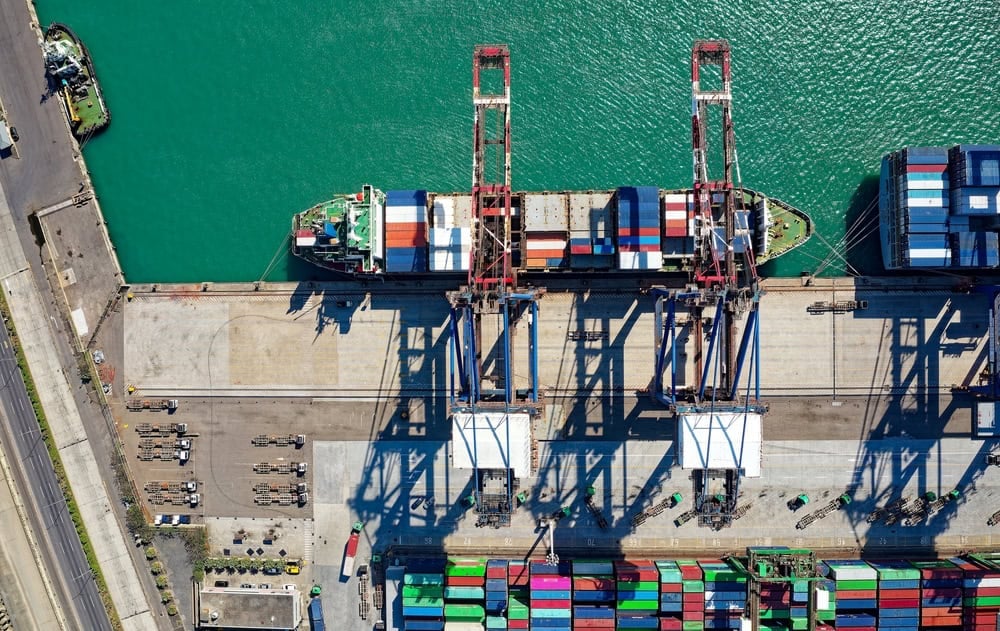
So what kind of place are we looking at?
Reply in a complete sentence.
It's a port.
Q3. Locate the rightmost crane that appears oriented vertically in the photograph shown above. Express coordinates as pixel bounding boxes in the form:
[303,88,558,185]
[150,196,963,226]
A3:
[943,289,1000,437]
